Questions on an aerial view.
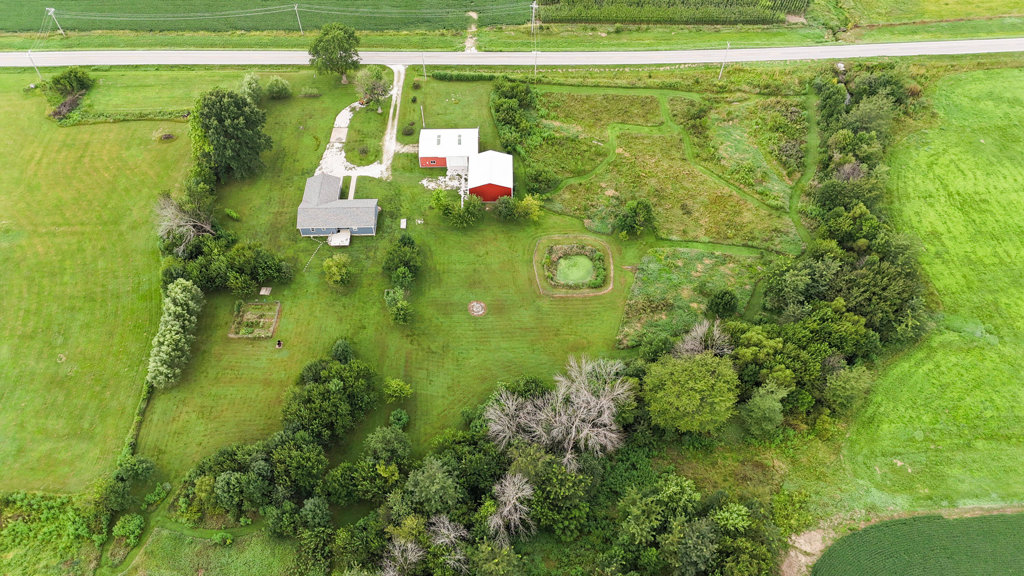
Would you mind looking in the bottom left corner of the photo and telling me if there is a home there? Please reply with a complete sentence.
No, I can find no home in the bottom left corner of the photo.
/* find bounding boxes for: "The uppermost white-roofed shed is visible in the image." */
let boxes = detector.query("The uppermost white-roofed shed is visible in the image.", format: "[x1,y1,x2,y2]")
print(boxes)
[418,127,478,167]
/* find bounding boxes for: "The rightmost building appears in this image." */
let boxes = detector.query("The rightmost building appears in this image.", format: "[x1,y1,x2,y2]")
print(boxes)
[467,149,513,202]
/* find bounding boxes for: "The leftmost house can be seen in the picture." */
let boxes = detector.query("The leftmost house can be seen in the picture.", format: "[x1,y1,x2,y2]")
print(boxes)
[296,171,379,236]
